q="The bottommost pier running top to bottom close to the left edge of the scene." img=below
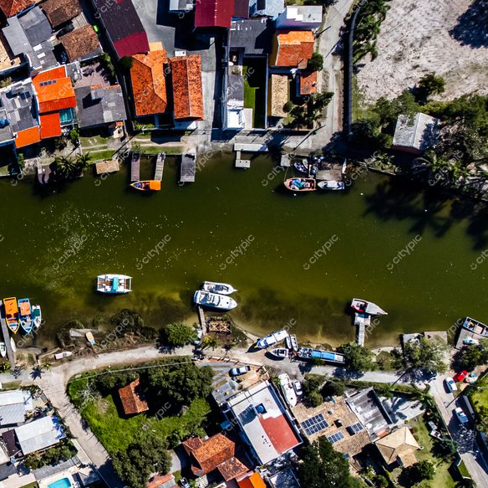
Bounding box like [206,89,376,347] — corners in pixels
[0,300,16,368]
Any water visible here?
Yes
